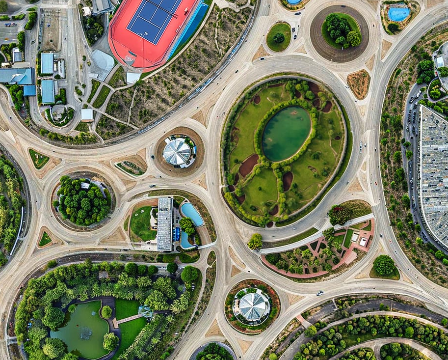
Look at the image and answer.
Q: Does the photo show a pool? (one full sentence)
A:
Yes, the image includes a pool.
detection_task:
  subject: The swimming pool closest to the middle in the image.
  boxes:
[181,202,205,227]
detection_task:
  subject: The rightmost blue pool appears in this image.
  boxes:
[389,7,410,21]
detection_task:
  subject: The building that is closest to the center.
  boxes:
[162,138,191,167]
